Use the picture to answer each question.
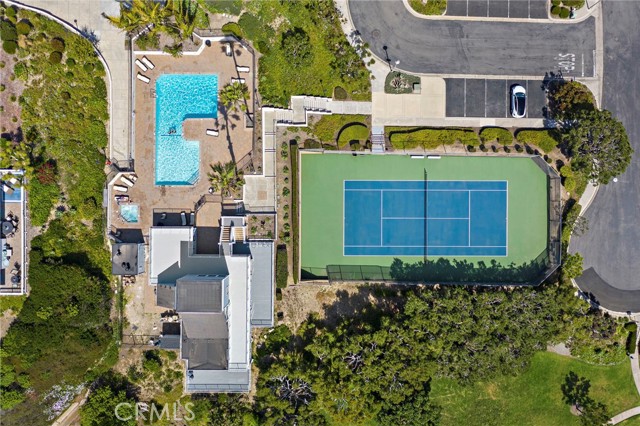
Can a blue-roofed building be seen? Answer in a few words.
No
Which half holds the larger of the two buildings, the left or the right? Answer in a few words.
left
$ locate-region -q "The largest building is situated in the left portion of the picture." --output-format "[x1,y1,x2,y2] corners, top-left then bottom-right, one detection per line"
[149,198,275,391]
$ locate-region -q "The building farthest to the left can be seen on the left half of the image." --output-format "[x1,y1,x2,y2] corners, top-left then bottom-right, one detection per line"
[113,244,144,275]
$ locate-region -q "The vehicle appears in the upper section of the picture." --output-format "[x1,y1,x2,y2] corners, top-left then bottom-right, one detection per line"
[509,85,527,117]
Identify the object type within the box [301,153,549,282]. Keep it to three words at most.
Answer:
tennis court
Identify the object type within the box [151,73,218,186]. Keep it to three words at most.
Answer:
swimming pool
